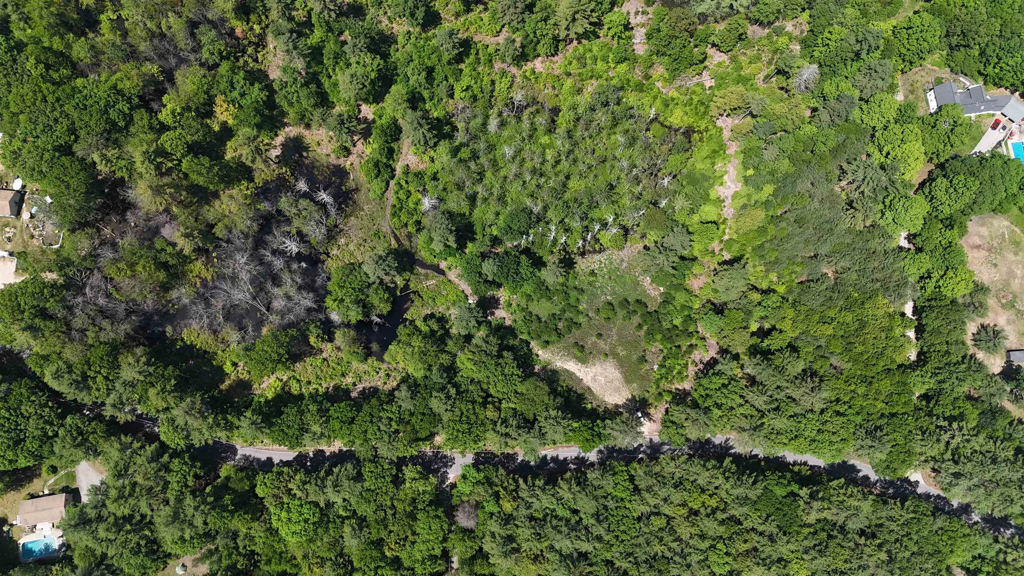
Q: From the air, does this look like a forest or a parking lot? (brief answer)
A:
forest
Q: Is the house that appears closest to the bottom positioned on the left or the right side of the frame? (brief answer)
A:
left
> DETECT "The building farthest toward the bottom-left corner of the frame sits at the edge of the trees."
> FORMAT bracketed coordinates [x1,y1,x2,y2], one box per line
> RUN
[16,490,75,525]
